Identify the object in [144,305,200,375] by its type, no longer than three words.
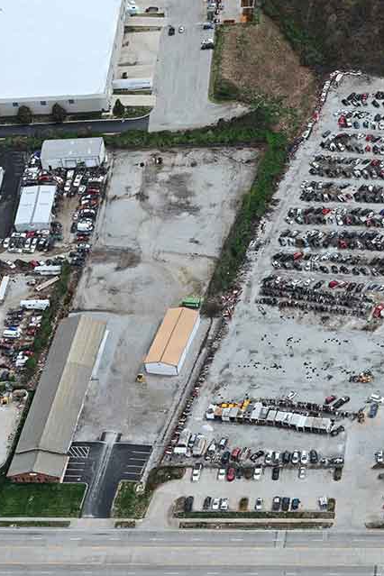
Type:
barn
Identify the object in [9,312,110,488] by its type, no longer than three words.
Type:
building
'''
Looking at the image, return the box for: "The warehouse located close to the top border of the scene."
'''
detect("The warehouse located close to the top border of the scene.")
[0,0,130,115]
